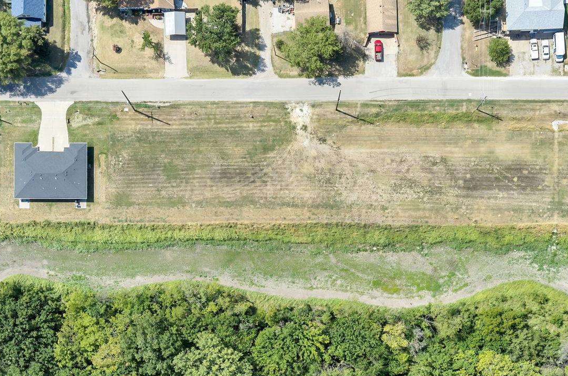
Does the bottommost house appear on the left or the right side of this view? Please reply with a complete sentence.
The bottommost house is on the left side of the image.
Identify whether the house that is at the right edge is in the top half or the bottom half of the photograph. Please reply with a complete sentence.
Seen from above, the house that is at the right edge lies in the top half of the view.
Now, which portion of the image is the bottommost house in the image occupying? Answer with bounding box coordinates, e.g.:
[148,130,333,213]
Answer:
[14,142,89,200]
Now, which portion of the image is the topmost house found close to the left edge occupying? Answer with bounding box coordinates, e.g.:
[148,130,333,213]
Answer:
[12,0,49,31]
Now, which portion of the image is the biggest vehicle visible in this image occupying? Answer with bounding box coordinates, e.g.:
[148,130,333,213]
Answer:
[553,29,567,63]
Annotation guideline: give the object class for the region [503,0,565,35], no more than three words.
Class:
house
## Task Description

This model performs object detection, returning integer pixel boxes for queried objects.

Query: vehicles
[540,40,550,61]
[529,39,540,62]
[373,39,384,64]
[553,29,567,63]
